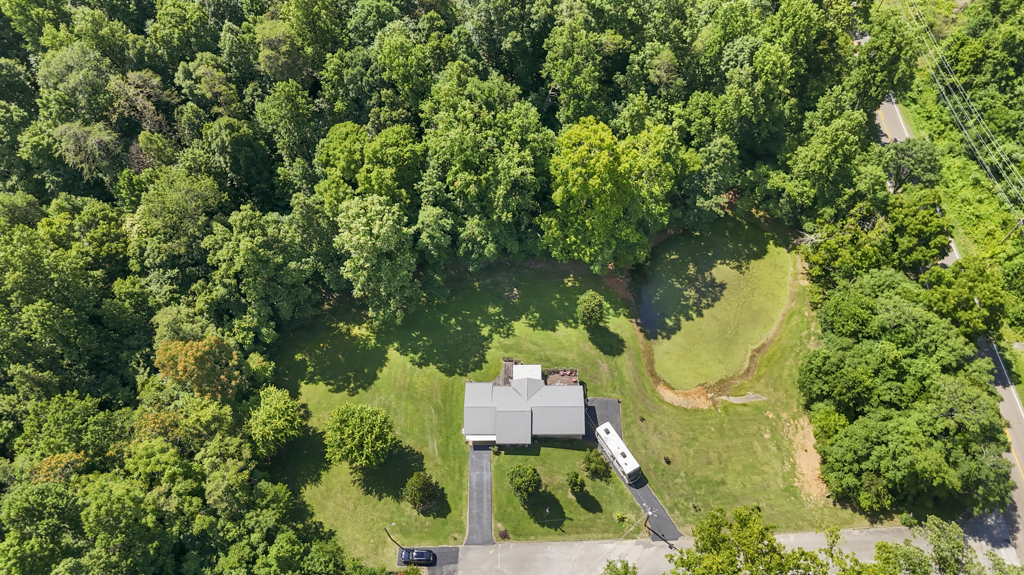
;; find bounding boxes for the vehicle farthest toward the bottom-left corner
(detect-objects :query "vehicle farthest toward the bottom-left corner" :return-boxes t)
[400,549,434,566]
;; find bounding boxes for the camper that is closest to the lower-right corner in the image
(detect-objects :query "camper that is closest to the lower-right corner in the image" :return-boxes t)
[594,423,643,484]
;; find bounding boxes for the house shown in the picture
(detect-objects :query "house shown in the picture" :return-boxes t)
[464,365,585,449]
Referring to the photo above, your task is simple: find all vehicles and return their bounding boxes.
[594,423,643,484]
[400,549,434,566]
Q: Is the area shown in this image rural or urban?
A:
rural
